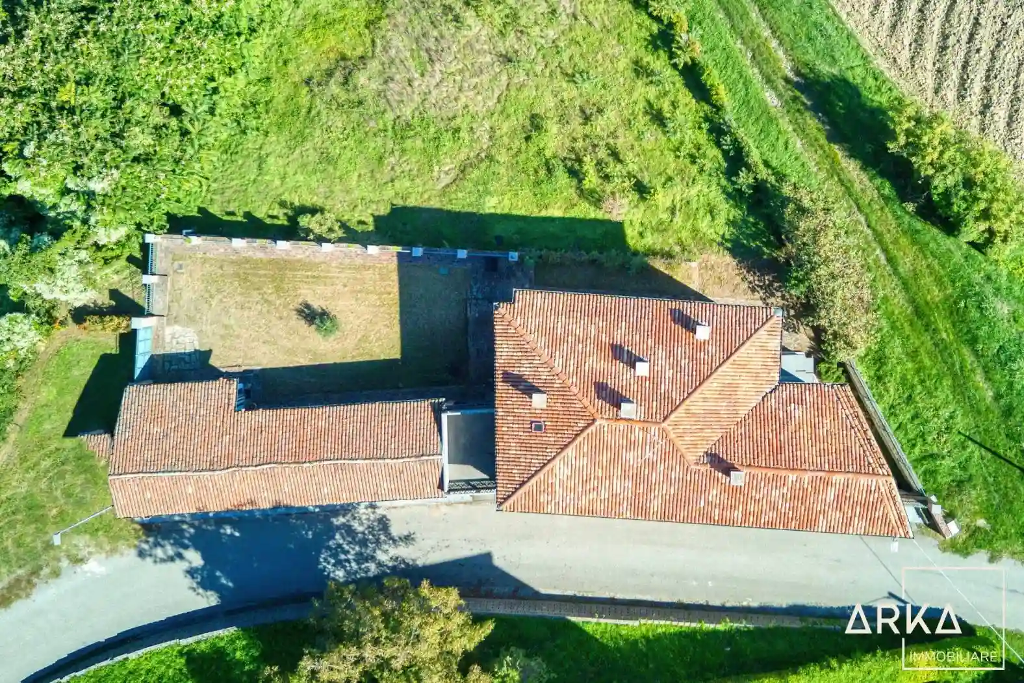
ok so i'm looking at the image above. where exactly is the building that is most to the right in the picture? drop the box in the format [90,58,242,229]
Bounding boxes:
[493,289,913,539]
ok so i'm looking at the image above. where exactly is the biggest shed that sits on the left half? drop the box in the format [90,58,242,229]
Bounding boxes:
[108,379,445,519]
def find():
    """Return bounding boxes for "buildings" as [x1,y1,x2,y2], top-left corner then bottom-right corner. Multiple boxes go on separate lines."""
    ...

[108,379,445,519]
[493,289,913,539]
